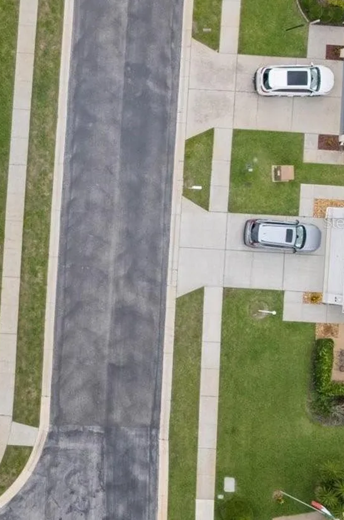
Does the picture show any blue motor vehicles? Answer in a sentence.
No, there appears to be no blue motor vehicle in this shot.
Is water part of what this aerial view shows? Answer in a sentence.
No, water can't be seen anywhere here.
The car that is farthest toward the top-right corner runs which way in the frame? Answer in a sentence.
In this picture, the car that is farthest toward the top-right corner is oriented from side to side.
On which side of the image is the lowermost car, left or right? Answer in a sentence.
The lowermost car is on the right side of the image.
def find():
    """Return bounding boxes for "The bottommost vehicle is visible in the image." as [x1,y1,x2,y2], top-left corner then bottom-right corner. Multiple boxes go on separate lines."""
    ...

[240,217,322,257]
